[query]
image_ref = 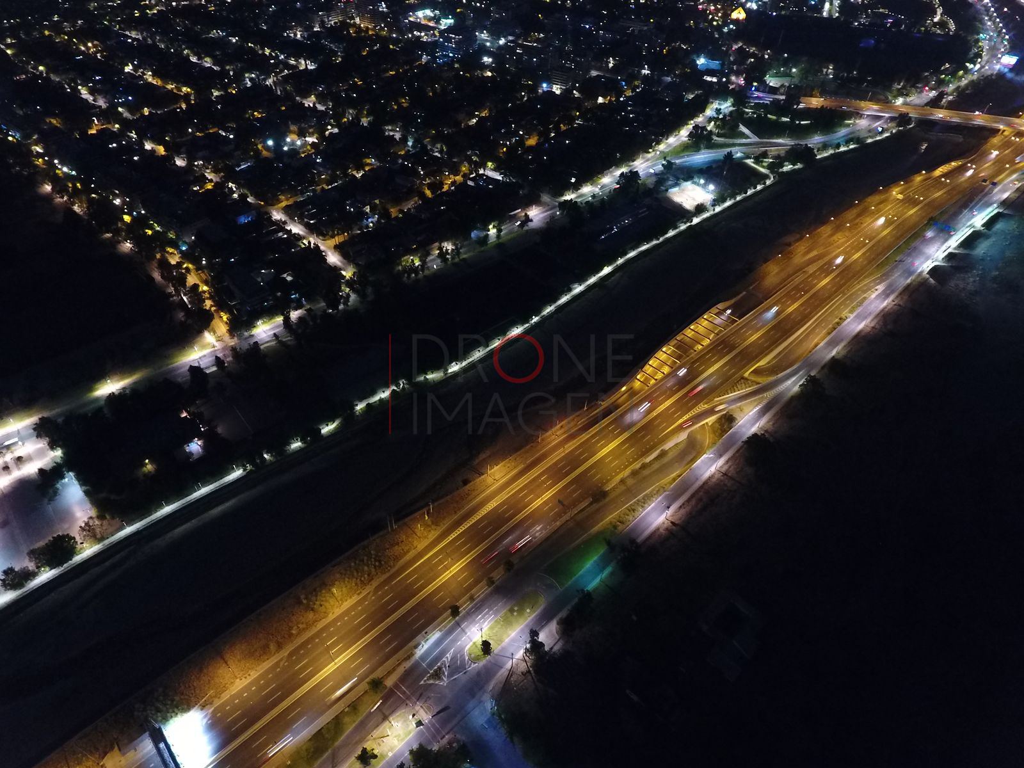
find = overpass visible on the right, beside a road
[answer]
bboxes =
[733,91,1024,138]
